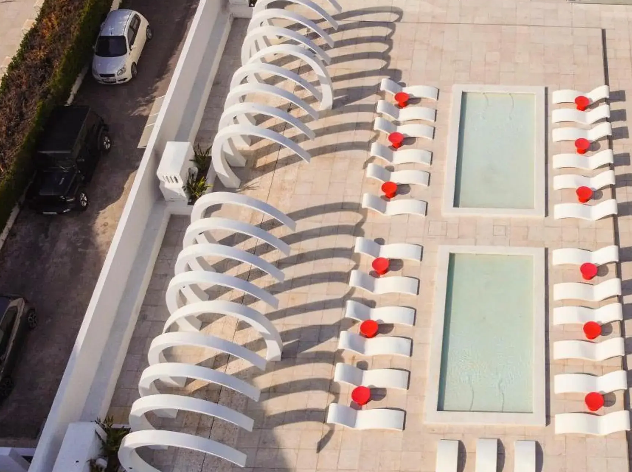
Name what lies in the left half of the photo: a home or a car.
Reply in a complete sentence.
There is a car in the left half of the photo.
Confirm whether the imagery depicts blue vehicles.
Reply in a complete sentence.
No, I can't see a single blue vehicle in this photo.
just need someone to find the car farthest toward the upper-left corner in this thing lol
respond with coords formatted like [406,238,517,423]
[90,10,151,83]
